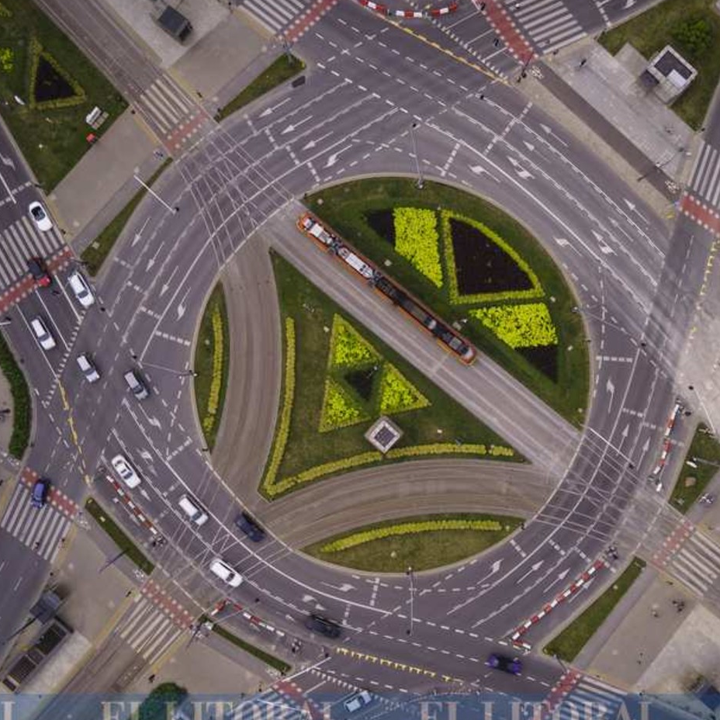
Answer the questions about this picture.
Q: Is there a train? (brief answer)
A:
Yes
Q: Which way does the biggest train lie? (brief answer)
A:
on a diagonal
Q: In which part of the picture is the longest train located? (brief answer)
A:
center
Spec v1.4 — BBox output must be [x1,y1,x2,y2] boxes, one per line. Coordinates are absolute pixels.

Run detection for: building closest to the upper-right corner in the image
[637,45,699,108]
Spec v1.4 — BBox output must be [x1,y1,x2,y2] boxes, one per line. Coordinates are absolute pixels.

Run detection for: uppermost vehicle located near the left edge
[26,197,52,234]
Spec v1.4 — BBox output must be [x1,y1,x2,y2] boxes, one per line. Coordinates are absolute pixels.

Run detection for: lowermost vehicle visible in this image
[342,690,374,716]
